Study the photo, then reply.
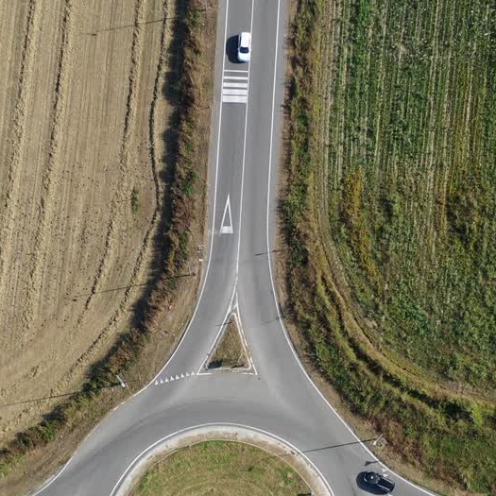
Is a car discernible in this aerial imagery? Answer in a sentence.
Yes, the photo shows a car.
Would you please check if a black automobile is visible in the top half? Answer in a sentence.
No, looking in the top half, there is no black automobile.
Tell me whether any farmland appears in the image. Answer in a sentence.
Yes, farmland can be seen from above here.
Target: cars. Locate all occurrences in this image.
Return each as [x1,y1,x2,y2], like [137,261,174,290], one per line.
[236,32,252,61]
[361,468,396,492]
